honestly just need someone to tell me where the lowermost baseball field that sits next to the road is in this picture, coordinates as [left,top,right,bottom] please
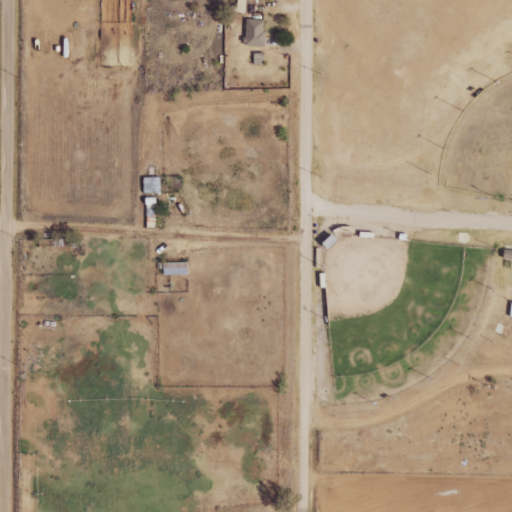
[326,234,464,376]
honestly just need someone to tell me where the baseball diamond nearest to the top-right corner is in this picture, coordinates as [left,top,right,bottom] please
[438,72,512,200]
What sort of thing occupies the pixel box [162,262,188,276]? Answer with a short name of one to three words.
shed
